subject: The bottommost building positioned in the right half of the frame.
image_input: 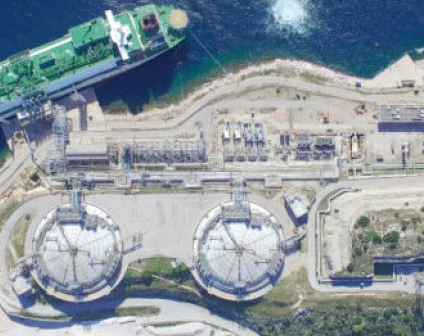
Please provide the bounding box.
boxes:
[287,193,310,223]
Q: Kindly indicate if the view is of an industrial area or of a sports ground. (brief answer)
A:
industrial area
